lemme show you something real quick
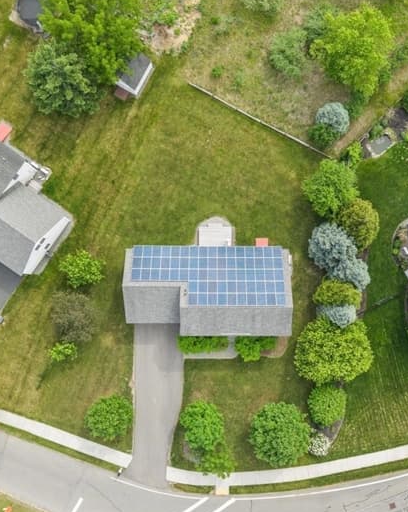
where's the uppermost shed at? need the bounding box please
[110,46,155,102]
